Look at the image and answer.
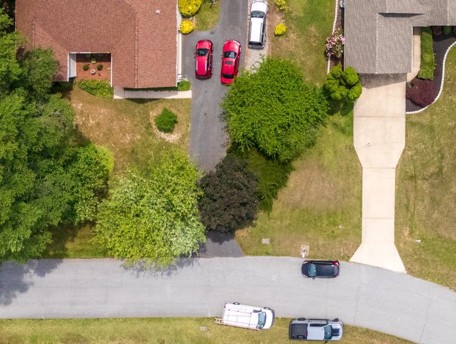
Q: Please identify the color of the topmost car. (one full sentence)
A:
In this view, the topmost car is white.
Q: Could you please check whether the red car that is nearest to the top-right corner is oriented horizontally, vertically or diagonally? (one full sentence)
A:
I'd say the red car that is nearest to the top-right corner is aligned vertically in the picture.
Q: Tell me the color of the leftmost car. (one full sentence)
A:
The leftmost car is red.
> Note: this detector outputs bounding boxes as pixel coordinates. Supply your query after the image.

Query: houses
[15,0,182,88]
[343,0,456,74]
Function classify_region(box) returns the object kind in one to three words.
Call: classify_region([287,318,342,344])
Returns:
truck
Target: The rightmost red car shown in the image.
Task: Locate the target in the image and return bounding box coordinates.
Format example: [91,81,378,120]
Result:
[220,39,241,85]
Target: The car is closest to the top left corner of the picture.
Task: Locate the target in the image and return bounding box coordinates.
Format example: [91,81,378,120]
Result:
[193,38,216,79]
